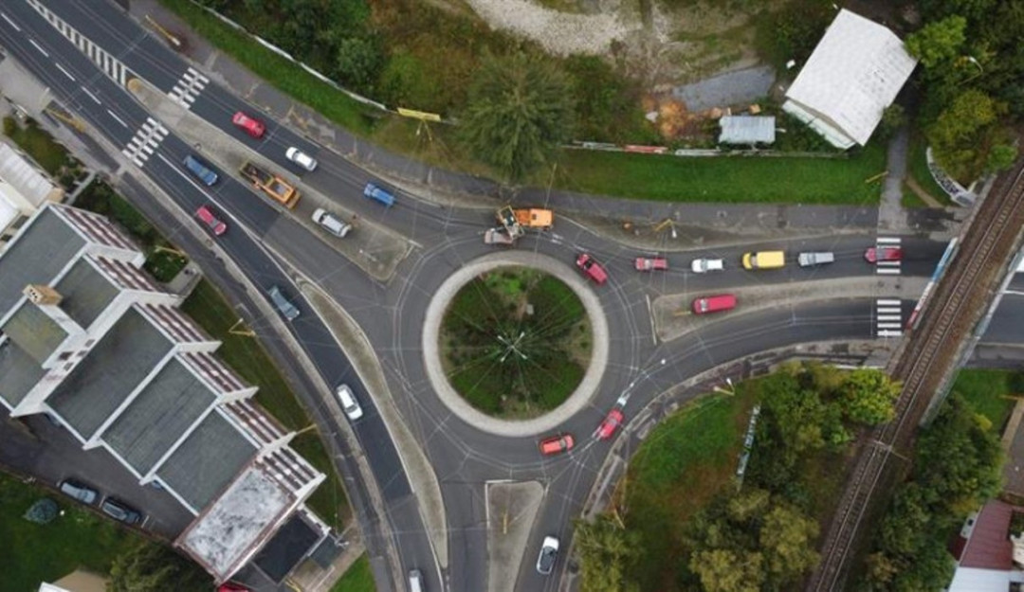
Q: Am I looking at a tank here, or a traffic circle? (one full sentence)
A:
The image shows a traffic circle.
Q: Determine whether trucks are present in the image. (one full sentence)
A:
Yes, looking at the shot, I can spot a truck.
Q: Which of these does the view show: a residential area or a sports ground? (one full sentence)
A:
This image shows a residential area.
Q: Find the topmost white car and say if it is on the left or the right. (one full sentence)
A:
You can find the topmost white car on the left side of the picture.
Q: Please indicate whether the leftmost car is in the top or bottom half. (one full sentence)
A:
The leftmost car is in the bottom half of the image.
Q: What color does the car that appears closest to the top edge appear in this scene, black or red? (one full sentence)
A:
From above, the car that appears closest to the top edge appears red.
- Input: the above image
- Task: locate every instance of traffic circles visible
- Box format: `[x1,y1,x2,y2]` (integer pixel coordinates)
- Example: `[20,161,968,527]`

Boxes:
[424,251,607,435]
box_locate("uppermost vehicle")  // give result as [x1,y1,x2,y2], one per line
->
[233,113,266,139]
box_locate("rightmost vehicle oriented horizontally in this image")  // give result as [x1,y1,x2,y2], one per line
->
[863,246,902,263]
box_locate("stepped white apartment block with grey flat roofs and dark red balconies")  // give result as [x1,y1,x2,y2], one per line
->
[0,200,351,588]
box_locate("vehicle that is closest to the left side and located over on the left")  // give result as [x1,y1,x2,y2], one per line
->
[58,479,100,503]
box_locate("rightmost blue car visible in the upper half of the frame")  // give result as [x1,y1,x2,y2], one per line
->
[364,184,396,206]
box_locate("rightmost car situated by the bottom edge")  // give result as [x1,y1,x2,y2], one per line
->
[536,536,558,577]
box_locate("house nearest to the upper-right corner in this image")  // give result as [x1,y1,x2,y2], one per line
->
[775,8,918,152]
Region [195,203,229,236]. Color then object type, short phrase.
red car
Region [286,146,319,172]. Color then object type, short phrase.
white car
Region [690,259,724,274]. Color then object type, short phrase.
white car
